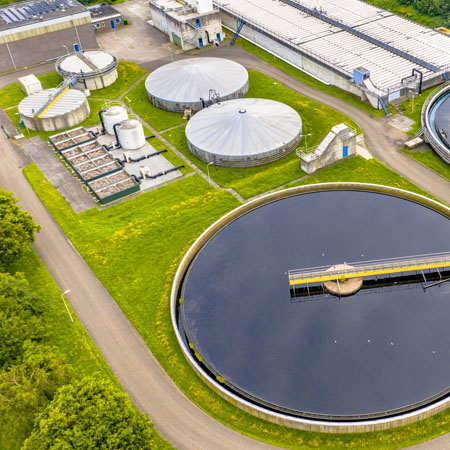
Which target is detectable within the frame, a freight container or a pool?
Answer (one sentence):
The one in the frame is a freight container.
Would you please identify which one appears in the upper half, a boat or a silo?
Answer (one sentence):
Visible in the upper half is a silo.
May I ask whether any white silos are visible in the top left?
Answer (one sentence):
Yes, a white silo can be seen in the top left.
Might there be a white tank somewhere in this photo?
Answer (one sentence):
Yes, a white tank can be made out from above.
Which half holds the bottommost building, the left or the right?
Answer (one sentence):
The bottommost building is on the right side of the image.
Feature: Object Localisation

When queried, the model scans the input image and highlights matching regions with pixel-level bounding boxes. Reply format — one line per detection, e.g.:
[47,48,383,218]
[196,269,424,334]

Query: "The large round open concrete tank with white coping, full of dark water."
[171,182,450,432]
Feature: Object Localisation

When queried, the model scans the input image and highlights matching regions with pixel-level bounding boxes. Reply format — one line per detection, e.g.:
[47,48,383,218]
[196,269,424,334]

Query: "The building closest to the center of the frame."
[301,125,357,173]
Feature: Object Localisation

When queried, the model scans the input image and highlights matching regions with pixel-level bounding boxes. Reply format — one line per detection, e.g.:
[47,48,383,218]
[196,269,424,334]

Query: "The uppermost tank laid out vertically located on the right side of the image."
[420,75,450,178]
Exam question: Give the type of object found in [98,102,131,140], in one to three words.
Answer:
silo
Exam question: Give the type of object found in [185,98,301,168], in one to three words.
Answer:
storage tank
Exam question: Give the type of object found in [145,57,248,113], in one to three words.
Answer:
storage tank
